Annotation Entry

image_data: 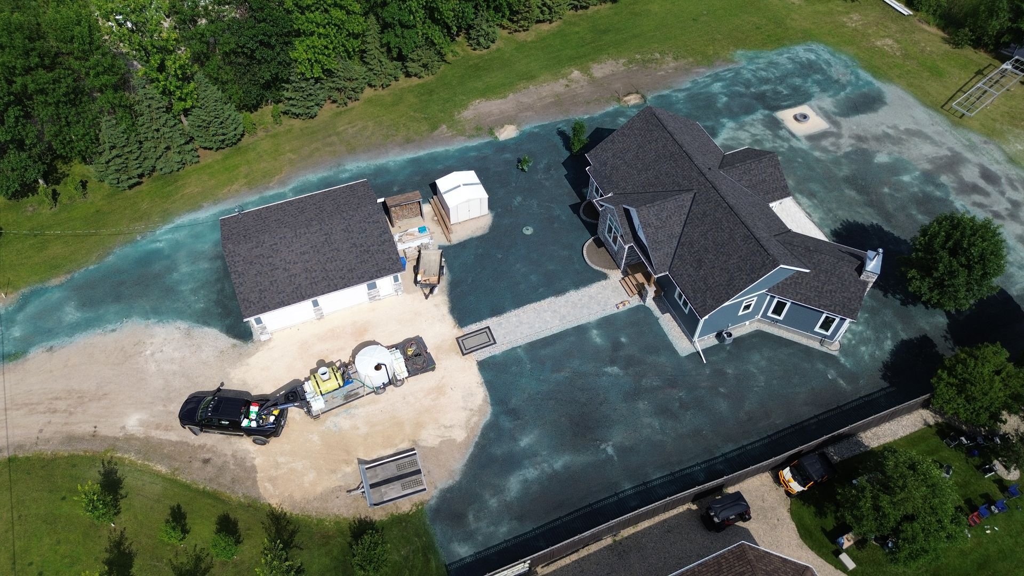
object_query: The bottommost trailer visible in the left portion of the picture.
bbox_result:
[348,448,430,508]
